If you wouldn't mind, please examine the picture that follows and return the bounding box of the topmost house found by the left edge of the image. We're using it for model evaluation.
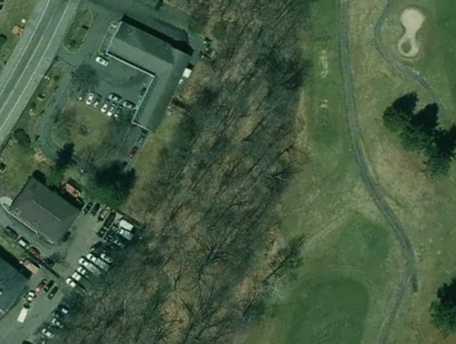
[9,176,82,243]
